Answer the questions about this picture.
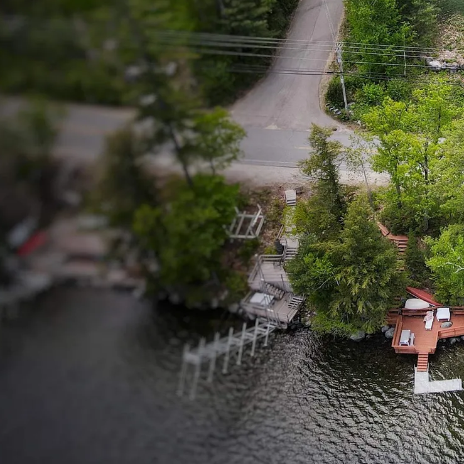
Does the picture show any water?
Yes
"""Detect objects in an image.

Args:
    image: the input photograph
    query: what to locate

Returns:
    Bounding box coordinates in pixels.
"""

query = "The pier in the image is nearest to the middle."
[184,314,273,366]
